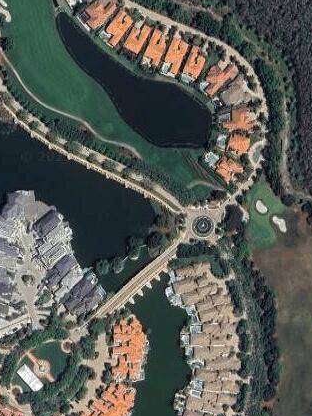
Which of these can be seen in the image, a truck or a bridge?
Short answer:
bridge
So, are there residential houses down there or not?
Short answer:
Yes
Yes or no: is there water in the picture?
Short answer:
Yes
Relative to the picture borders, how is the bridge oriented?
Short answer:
on a diagonal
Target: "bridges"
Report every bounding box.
[89,232,195,324]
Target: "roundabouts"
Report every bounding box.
[185,209,220,243]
